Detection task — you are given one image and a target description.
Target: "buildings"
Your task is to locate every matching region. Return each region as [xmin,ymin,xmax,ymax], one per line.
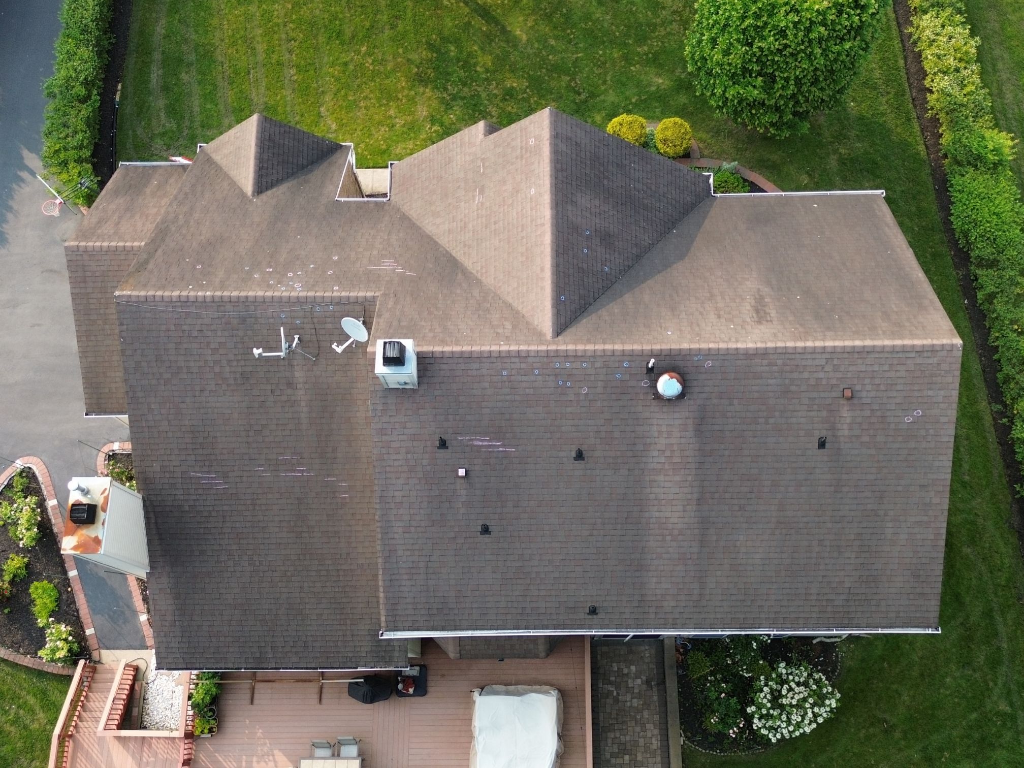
[62,108,962,673]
